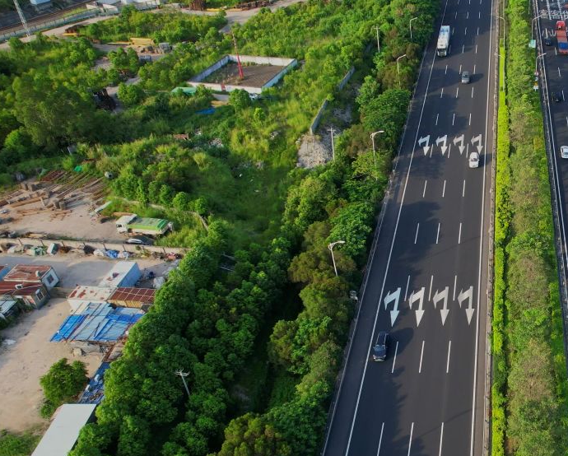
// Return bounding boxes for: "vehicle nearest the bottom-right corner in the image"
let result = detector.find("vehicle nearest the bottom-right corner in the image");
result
[372,330,390,359]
